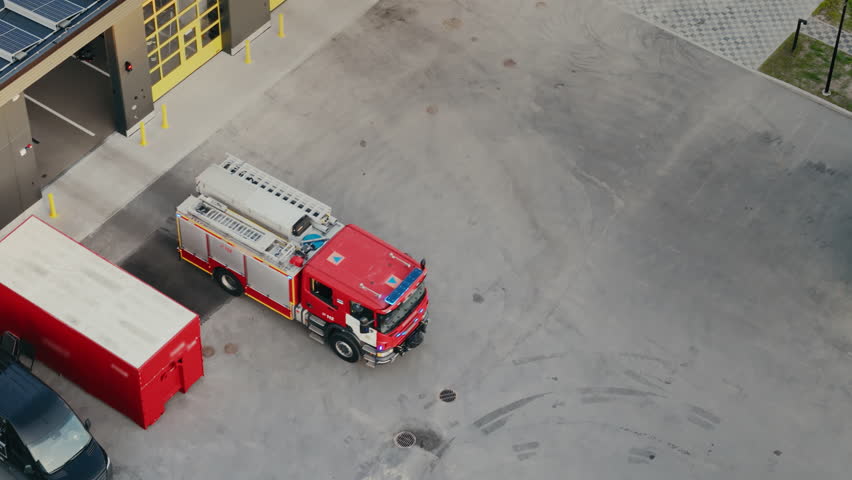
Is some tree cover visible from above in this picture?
No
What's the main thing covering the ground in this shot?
paved ground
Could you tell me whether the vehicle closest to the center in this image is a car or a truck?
truck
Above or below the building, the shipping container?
below it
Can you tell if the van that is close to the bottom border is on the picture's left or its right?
left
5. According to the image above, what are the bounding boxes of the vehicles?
[176,156,434,374]
[0,346,115,480]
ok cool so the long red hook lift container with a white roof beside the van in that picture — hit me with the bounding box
[0,216,205,428]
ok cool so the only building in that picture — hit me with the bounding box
[0,0,285,233]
